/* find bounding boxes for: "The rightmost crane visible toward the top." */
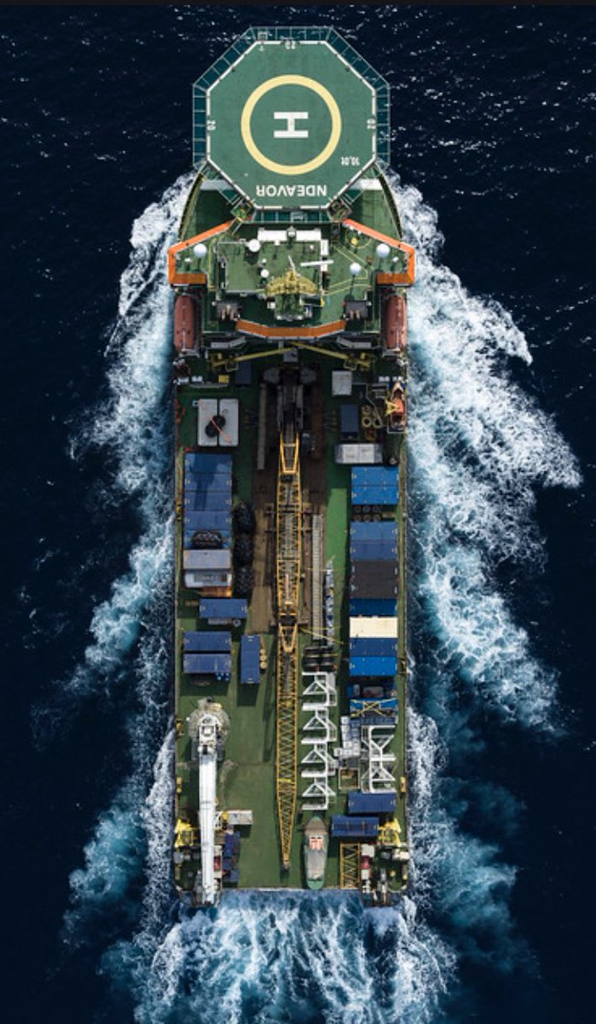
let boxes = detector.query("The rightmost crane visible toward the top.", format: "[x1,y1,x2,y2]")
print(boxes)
[292,342,376,375]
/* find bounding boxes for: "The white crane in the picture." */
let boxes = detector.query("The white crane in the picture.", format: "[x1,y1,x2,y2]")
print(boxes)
[185,696,229,907]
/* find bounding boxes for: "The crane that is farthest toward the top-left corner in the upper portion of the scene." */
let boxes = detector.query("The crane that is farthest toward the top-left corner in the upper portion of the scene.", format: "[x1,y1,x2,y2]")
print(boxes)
[210,345,296,375]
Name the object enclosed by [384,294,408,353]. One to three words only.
boat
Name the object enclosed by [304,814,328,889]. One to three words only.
boat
